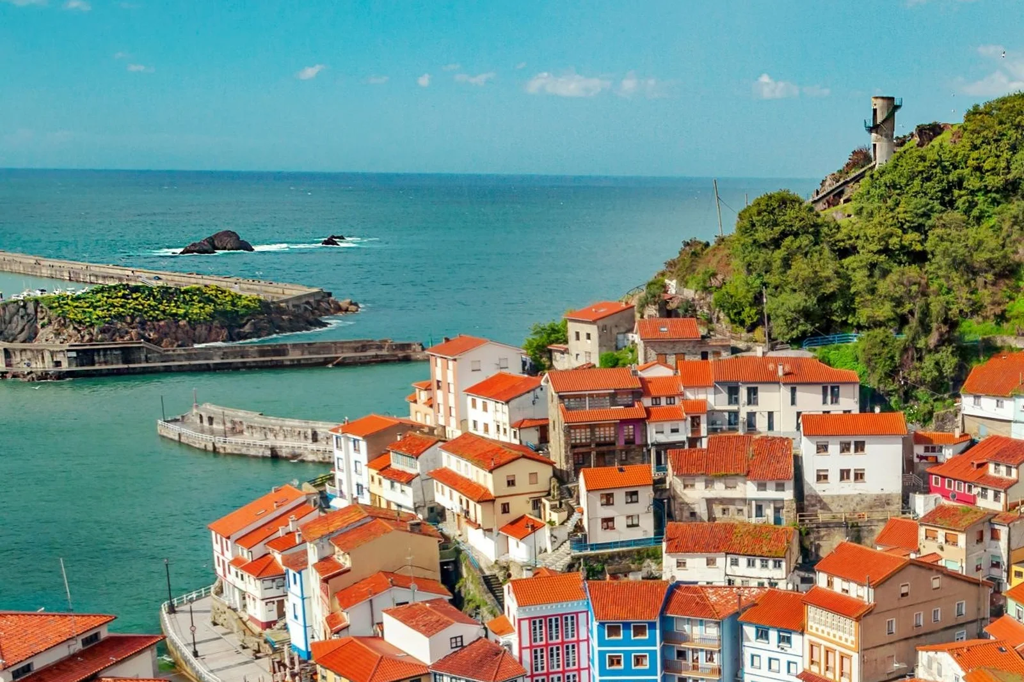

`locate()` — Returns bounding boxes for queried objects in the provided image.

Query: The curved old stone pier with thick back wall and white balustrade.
[158,391,406,465]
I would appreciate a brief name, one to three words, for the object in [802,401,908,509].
house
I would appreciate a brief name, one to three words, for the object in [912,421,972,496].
house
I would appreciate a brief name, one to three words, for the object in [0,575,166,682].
building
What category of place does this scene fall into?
residential area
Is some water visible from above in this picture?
Yes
